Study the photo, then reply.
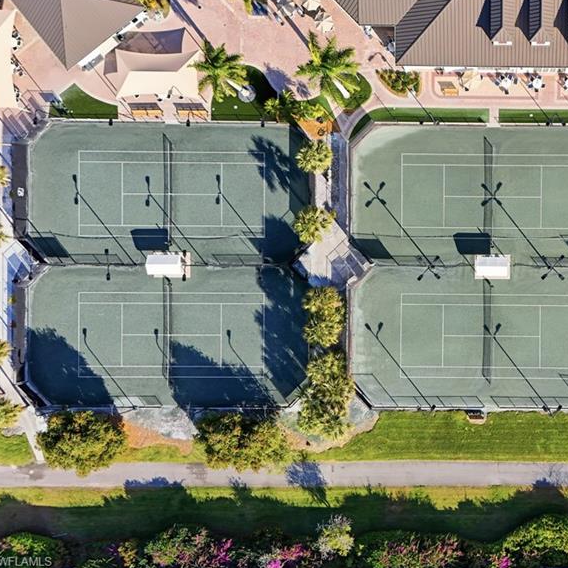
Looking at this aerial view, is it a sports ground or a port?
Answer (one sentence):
What you see here is a sports ground.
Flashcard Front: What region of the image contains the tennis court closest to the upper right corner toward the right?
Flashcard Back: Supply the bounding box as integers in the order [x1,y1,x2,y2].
[349,122,568,265]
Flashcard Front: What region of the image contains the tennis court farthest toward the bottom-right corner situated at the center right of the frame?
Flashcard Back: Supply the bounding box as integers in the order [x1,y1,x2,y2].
[349,265,568,409]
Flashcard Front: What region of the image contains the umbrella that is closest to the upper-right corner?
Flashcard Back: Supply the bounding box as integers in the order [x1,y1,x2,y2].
[460,73,476,90]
